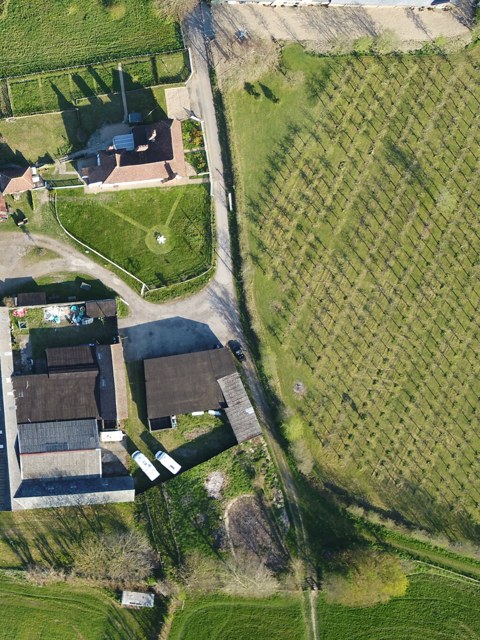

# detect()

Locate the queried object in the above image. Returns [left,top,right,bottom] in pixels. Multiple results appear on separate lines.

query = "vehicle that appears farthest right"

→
[229,342,245,363]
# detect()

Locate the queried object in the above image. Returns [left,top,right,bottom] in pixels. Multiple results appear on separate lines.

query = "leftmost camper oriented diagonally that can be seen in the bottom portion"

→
[129,448,158,483]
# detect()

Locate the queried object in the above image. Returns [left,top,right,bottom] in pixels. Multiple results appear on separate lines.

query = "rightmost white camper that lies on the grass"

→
[153,447,180,476]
